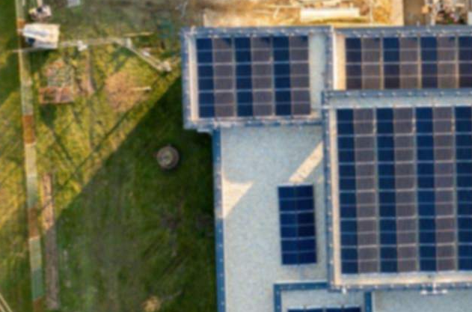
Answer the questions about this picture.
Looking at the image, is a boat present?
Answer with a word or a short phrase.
No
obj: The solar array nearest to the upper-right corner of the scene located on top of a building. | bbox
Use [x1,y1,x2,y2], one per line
[346,34,472,91]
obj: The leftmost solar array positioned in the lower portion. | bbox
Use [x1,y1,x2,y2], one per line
[279,183,317,266]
